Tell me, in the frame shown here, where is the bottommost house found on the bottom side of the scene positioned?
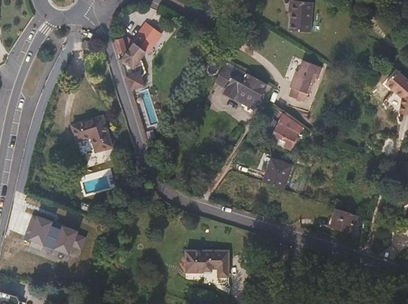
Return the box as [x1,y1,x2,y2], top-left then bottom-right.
[180,250,229,280]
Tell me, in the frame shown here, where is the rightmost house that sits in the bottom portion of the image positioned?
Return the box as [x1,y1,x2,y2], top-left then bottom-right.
[329,209,357,231]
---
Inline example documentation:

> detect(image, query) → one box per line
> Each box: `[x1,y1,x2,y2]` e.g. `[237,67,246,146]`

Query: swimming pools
[134,87,158,130]
[80,168,114,197]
